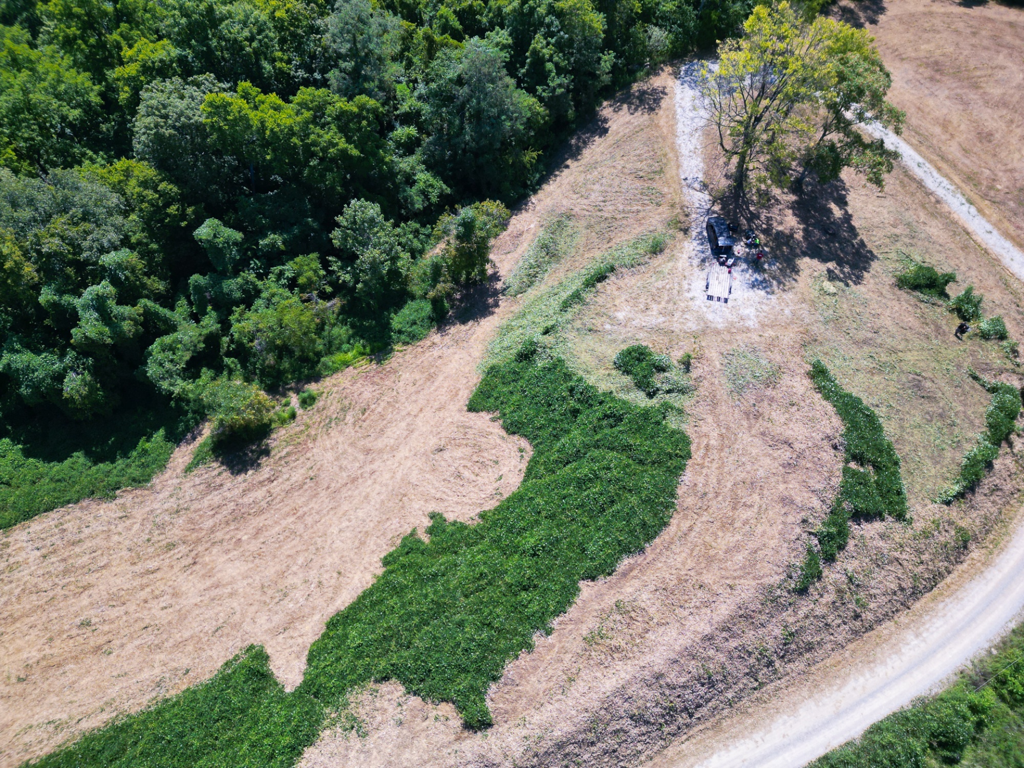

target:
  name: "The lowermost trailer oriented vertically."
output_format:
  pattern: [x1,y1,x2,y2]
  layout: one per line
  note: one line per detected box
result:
[705,256,734,315]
